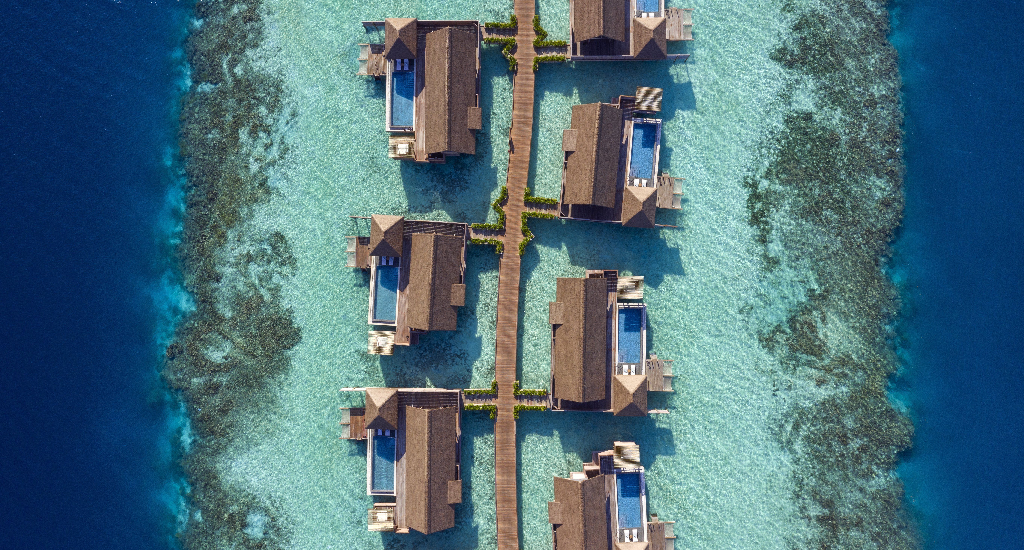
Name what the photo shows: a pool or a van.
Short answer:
pool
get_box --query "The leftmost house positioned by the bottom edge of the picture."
[368,386,463,535]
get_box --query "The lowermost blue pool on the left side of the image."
[366,429,396,495]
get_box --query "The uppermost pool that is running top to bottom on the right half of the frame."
[626,119,662,188]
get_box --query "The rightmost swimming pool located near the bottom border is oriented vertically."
[614,464,647,539]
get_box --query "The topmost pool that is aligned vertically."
[385,61,415,134]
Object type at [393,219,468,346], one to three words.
house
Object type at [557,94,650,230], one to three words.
house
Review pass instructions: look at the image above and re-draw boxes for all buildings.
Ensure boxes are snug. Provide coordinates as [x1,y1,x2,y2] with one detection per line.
[393,219,468,346]
[548,446,645,550]
[387,25,483,164]
[549,268,619,411]
[557,94,650,230]
[569,0,663,63]
[368,386,463,535]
